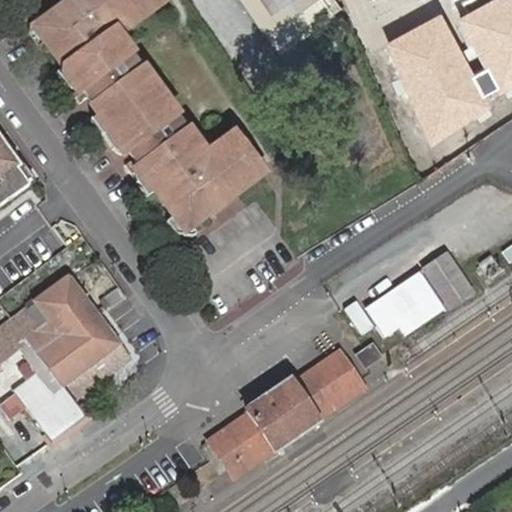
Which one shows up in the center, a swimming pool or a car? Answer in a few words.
car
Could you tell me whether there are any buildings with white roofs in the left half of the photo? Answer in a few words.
Yes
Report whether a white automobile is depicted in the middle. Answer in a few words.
Yes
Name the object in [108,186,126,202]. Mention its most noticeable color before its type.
white car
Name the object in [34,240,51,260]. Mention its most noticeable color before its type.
white car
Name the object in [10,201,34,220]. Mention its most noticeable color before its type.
white vehicle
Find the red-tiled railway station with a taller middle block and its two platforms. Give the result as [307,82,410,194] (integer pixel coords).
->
[186,292,512,512]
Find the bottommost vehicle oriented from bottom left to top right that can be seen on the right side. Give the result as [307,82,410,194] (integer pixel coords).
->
[366,278,391,298]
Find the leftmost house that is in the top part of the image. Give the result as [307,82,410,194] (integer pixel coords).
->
[0,132,34,204]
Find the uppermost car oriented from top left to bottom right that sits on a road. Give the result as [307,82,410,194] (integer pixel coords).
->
[6,108,22,128]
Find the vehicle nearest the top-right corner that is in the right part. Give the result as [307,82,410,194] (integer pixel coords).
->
[354,216,376,234]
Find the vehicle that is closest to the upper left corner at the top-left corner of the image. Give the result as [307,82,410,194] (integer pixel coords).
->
[6,44,26,61]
